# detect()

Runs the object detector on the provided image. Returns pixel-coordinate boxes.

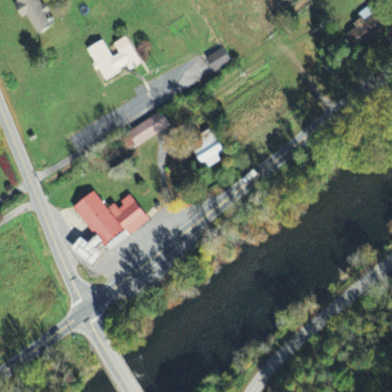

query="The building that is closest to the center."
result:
[194,130,221,168]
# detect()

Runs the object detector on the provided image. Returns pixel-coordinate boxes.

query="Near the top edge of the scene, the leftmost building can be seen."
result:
[16,0,54,34]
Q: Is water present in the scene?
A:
Yes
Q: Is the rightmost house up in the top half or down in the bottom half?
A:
top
